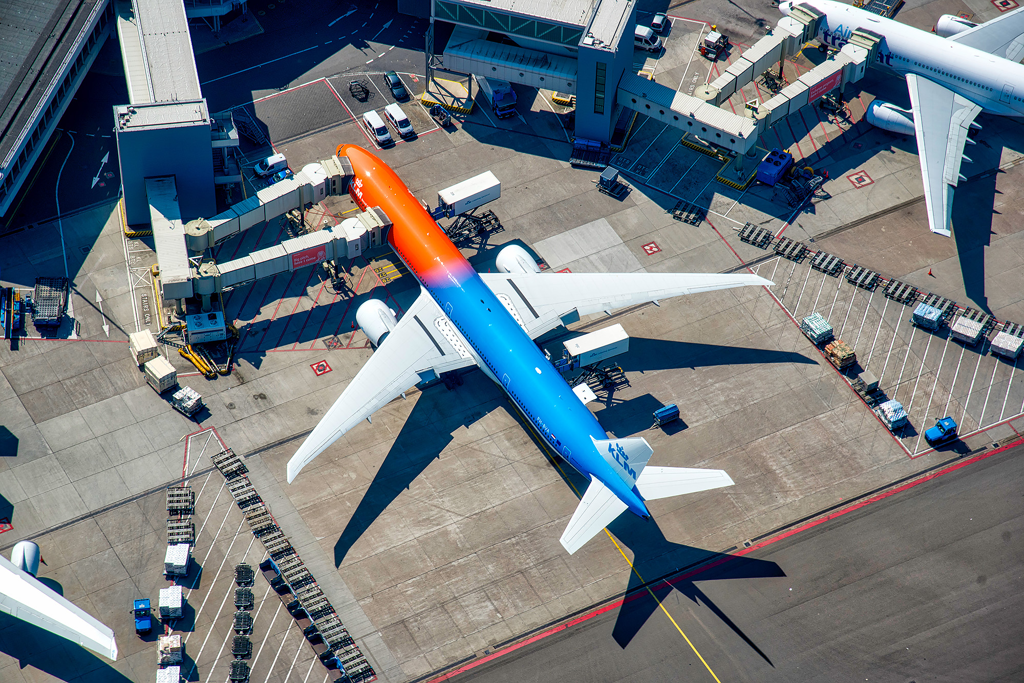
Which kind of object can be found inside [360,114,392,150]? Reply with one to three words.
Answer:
van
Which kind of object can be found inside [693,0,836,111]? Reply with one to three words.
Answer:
jet bridge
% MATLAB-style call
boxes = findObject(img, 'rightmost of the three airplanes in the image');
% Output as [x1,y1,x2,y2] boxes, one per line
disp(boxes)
[779,0,1024,230]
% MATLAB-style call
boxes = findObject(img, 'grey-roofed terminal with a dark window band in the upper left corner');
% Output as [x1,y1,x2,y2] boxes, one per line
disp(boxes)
[0,0,115,214]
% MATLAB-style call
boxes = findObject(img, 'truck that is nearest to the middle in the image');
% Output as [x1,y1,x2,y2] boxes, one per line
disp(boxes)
[550,324,629,398]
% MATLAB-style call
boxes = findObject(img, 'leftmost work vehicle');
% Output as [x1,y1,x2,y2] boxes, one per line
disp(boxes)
[0,284,22,336]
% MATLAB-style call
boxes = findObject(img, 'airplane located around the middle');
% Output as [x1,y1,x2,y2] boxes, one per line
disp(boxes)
[287,148,774,555]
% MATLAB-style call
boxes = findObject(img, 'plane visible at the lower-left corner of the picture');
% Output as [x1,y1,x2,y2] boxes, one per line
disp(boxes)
[0,542,117,661]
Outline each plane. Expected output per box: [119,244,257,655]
[0,542,117,661]
[779,0,1024,230]
[287,148,774,555]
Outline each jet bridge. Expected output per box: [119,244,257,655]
[741,26,895,152]
[693,0,836,111]
[190,205,394,314]
[184,152,360,260]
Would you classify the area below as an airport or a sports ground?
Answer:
airport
